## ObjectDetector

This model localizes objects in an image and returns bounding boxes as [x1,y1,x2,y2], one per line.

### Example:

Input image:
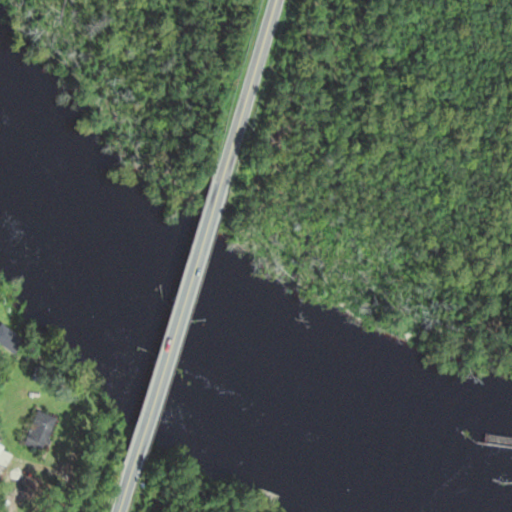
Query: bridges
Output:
[124,174,234,475]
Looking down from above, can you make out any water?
Yes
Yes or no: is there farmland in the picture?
No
